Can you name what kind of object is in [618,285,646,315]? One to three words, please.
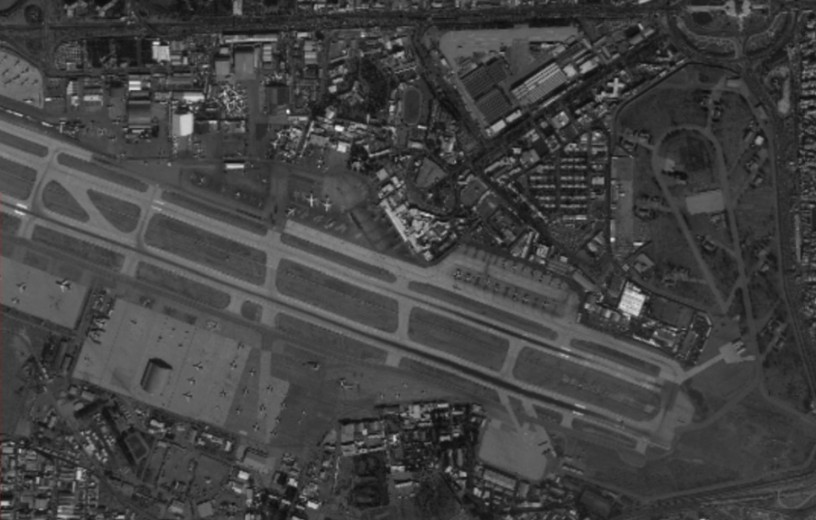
building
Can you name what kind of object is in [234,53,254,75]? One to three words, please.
hangar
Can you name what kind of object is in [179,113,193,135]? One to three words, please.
hangar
